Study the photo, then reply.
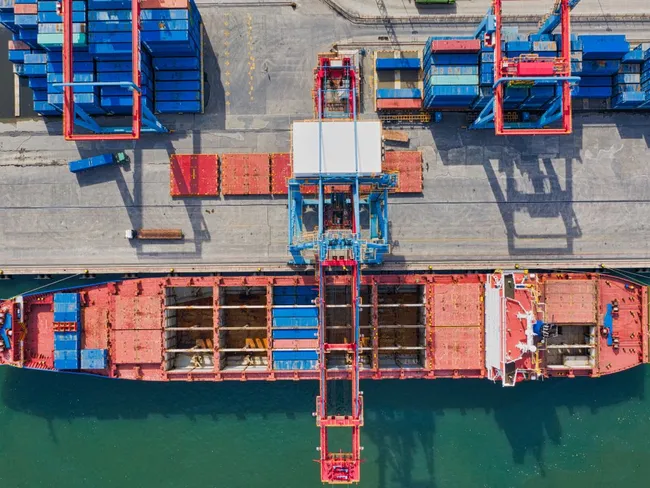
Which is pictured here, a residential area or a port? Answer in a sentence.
It's a port.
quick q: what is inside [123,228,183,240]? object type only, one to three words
vehicle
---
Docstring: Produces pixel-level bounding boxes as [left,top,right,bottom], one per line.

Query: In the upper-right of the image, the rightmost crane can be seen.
[453,0,583,135]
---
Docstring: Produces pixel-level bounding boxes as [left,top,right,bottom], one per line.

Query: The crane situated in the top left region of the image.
[50,0,183,138]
